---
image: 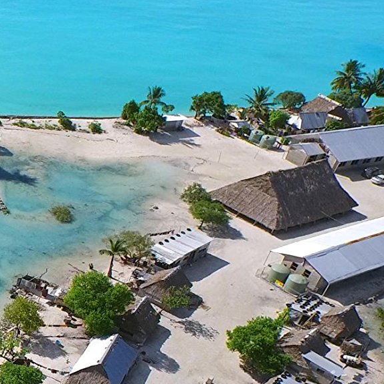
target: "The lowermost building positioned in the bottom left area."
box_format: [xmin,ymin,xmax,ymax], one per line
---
[65,331,138,384]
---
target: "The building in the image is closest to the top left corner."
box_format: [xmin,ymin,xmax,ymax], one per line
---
[153,110,183,132]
